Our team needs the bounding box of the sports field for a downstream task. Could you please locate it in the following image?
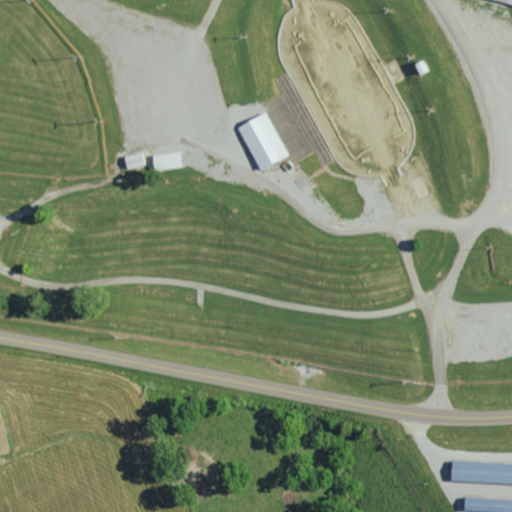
[0,0,108,178]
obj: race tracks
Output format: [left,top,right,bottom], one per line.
[278,0,413,188]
